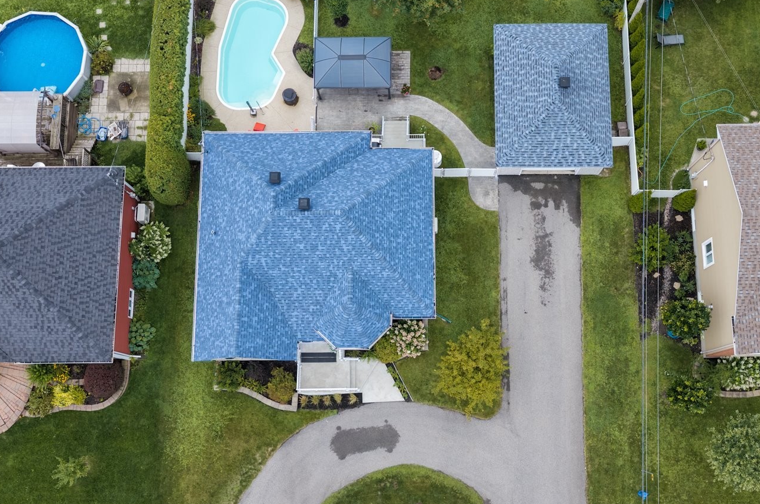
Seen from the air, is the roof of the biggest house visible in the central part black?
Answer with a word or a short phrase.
No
